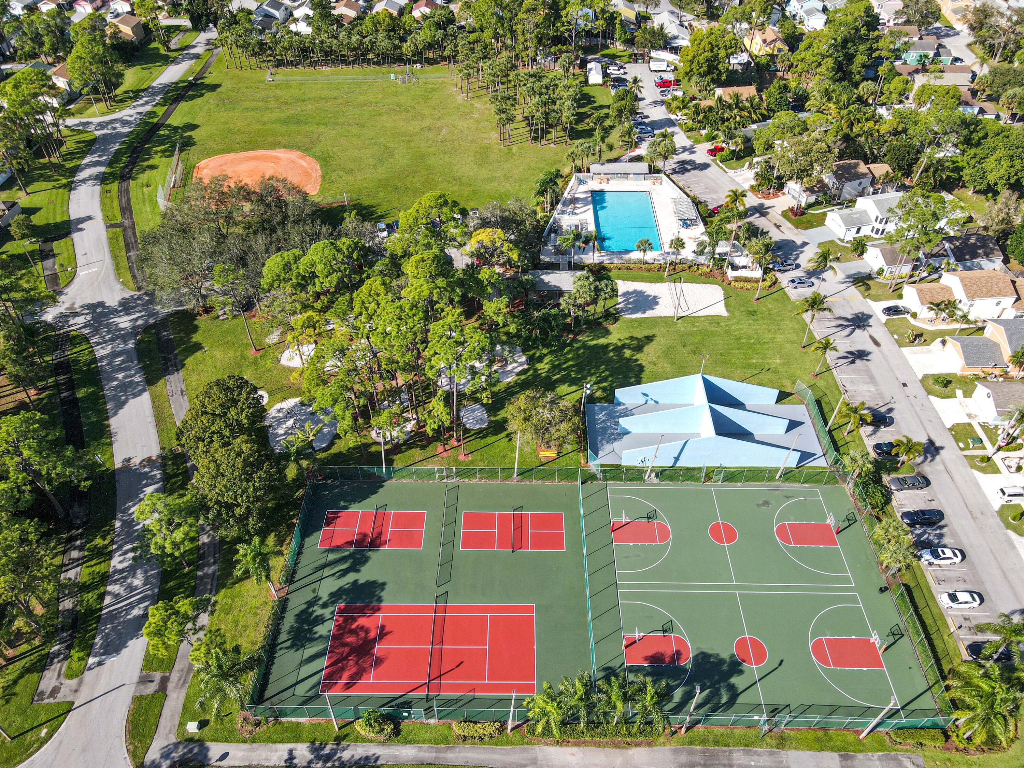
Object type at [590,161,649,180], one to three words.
building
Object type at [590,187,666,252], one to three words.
swimming pool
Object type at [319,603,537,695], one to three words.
tennis court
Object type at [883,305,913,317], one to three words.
vehicle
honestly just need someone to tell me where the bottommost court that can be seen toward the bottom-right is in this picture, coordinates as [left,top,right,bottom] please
[619,589,906,720]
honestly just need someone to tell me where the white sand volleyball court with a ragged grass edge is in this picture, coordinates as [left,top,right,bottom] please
[617,281,728,317]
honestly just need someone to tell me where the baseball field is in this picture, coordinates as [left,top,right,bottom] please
[193,150,321,212]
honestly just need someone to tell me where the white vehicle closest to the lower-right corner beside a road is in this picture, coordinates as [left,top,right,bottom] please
[942,591,985,611]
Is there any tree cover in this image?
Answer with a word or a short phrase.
Yes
